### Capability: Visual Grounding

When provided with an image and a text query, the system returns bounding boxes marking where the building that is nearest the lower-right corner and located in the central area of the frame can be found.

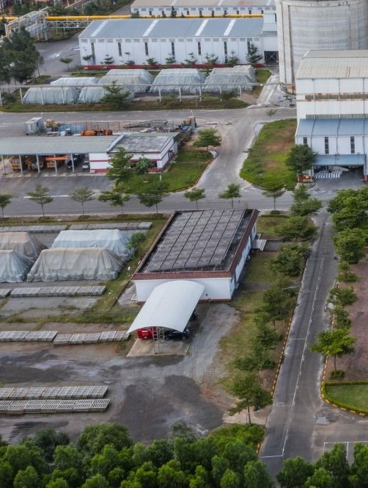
[131,202,272,301]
